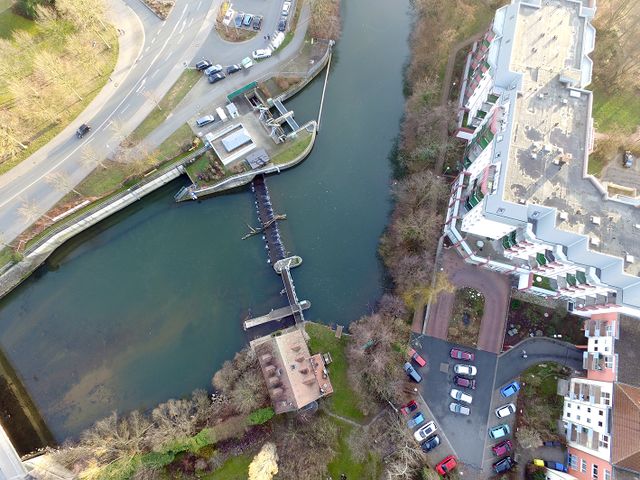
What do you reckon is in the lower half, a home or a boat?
home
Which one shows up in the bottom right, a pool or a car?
car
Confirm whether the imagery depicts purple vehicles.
Yes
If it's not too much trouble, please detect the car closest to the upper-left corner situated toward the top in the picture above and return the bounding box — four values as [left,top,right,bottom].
[73,122,93,138]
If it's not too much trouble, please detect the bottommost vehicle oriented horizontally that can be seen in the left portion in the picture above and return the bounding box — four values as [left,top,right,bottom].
[194,114,216,127]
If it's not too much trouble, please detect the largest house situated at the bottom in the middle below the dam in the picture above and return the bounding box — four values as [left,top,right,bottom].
[254,329,334,416]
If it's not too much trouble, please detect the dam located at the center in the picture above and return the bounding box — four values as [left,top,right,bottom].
[254,178,286,265]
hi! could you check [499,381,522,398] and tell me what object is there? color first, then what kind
blue car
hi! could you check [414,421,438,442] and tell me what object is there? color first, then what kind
white car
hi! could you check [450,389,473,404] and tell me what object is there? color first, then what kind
white car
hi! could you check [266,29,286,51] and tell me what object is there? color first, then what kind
white vehicle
